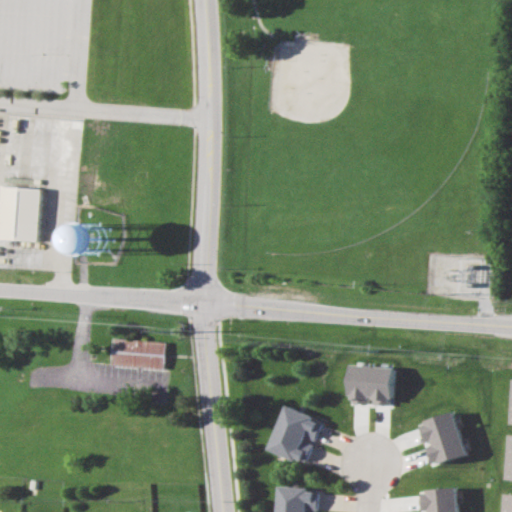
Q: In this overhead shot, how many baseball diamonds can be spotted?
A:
1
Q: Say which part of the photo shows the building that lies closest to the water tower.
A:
left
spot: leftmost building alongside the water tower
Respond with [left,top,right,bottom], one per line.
[0,187,46,242]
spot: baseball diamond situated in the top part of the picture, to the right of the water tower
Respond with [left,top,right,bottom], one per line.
[267,34,488,255]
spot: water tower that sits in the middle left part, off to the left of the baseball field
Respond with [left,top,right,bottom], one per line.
[52,221,114,258]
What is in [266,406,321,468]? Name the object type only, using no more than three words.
house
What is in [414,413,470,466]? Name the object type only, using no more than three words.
house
